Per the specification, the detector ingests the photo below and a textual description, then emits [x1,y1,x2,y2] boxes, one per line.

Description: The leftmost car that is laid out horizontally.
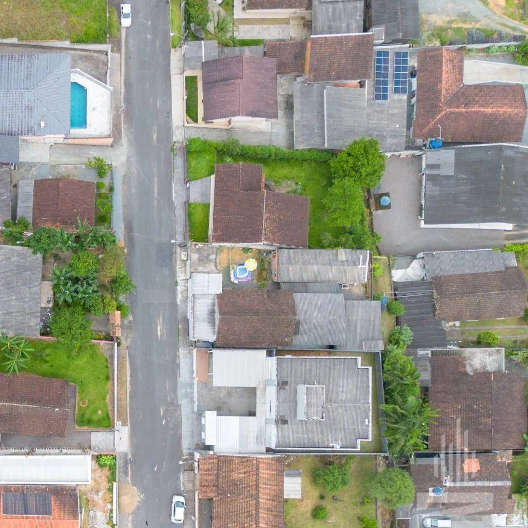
[422,515,452,528]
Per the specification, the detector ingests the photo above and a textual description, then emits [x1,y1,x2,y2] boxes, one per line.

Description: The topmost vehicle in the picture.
[120,2,133,28]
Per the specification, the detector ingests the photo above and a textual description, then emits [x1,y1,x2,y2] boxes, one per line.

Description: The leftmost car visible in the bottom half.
[170,494,186,524]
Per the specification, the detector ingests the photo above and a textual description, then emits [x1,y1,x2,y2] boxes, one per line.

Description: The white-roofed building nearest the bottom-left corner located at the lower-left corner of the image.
[0,453,91,484]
